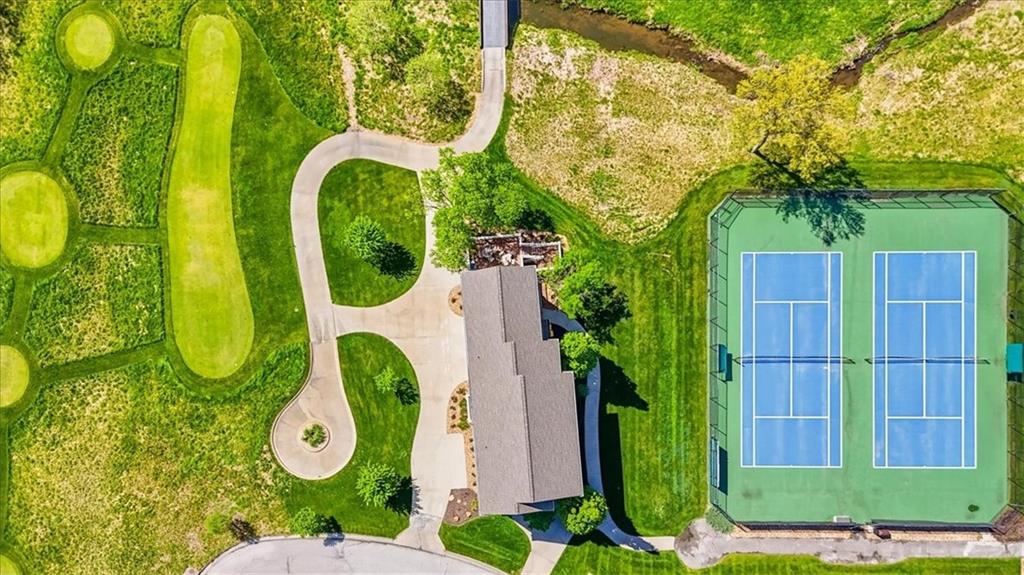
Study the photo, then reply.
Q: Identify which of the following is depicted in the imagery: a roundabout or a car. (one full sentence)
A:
This aerial view contains a roundabout.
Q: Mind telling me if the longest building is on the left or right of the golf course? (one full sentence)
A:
Relative to the golf course, the longest building lies to the right.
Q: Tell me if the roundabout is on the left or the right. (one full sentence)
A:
The roundabout is on the left side of the image.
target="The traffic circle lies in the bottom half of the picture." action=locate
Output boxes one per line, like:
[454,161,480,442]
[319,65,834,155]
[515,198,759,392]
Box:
[271,352,356,480]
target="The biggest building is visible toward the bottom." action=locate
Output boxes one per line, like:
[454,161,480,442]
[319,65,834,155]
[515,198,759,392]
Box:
[461,267,584,517]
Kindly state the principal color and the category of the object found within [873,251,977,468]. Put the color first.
blue tennis court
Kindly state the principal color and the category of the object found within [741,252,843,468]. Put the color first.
blue tennis court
